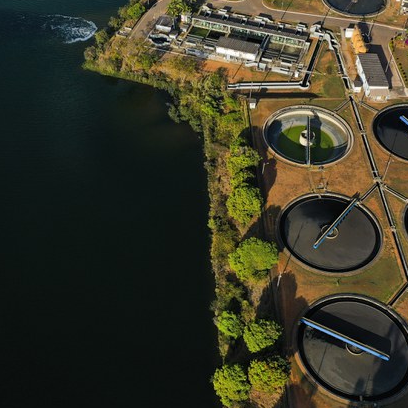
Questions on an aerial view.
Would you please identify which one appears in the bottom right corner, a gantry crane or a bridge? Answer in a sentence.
The one visible in the bottom right corner is a bridge.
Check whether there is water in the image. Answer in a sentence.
Yes, water shows up in the scene.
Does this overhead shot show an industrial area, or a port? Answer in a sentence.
This image shows an industrial area.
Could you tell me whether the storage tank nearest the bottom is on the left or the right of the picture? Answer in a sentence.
You can find the storage tank nearest the bottom on the right side of the picture.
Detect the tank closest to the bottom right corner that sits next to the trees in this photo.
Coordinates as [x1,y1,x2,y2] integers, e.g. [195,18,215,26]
[295,292,408,405]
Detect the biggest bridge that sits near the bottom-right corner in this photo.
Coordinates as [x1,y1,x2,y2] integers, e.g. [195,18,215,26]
[301,316,389,361]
